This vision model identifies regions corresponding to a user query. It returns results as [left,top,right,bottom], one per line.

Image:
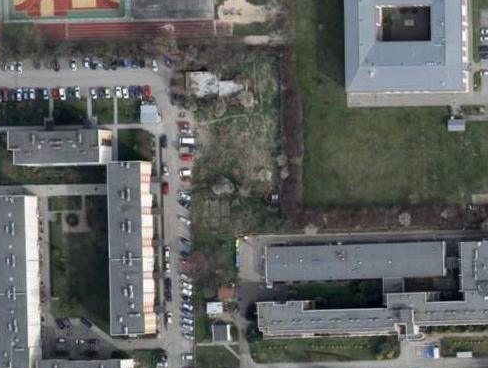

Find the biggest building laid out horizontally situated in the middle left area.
[7,129,111,166]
